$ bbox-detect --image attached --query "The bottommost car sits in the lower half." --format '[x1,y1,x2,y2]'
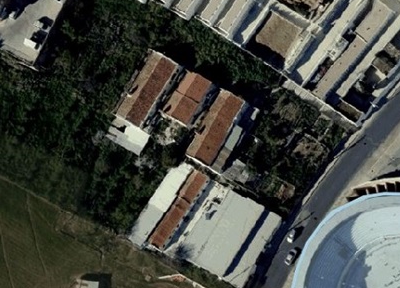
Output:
[284,247,298,265]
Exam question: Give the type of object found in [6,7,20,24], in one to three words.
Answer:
vehicle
